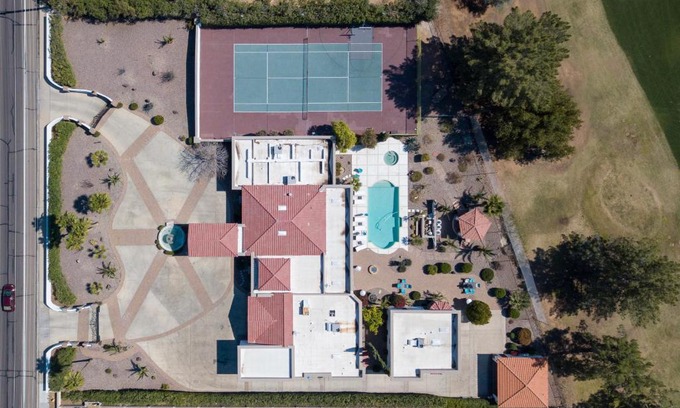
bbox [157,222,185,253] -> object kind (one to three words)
fountain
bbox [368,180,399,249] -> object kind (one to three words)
swimming pool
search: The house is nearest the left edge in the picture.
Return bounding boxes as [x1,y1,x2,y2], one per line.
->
[186,137,362,378]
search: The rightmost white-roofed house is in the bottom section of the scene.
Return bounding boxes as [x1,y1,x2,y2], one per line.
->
[386,297,462,378]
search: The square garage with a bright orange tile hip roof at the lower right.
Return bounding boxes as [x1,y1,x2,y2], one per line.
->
[488,350,549,408]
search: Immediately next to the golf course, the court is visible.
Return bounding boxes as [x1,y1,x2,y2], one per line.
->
[201,25,420,138]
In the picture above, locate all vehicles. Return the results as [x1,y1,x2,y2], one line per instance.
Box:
[1,283,18,312]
